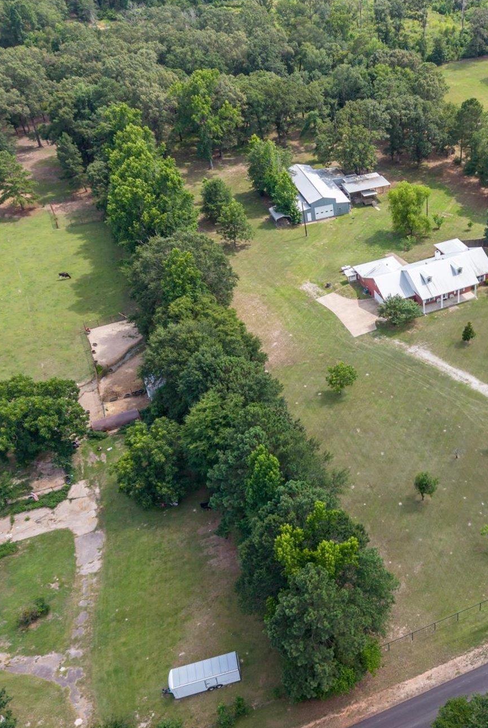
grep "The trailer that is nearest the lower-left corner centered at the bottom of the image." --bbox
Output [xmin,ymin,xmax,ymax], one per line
[158,650,238,697]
